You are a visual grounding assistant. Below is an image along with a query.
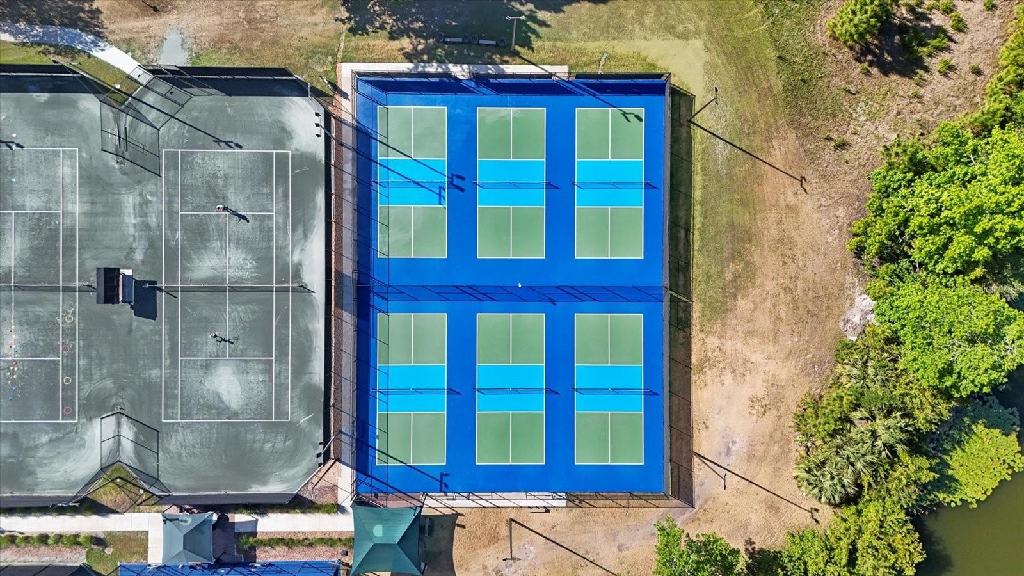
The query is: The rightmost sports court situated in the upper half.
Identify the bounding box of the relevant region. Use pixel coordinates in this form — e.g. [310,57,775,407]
[576,108,644,259]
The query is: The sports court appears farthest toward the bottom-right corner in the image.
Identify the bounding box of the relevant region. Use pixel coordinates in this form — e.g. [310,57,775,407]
[575,313,644,465]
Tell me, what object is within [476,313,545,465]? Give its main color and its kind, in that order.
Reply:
green sports court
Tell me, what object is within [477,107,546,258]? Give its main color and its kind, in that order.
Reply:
green sports court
